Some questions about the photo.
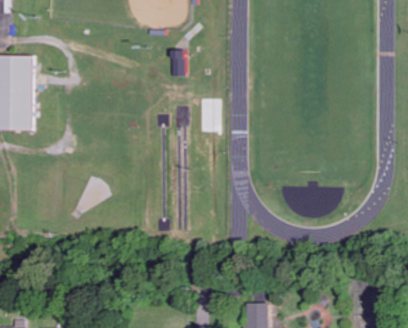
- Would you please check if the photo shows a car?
No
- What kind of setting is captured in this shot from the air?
sports ground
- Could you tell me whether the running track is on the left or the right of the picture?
right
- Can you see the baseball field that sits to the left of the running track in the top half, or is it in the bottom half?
top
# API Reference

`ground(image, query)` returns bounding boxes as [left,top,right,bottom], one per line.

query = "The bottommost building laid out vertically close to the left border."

[0,54,36,130]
